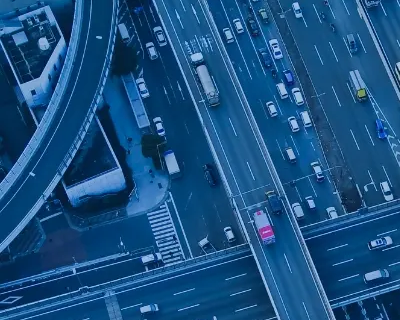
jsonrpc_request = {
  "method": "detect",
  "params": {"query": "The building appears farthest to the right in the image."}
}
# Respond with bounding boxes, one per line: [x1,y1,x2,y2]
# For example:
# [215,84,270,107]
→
[61,109,123,203]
